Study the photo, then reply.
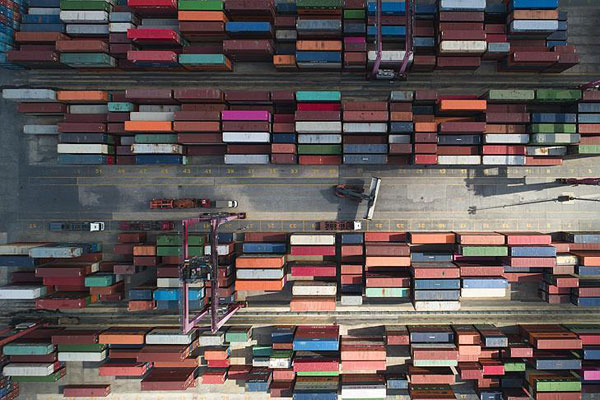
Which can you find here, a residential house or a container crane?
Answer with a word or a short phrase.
container crane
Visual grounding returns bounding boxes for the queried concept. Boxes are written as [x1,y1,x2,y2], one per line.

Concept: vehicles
[148,199,210,209]
[47,221,103,232]
[315,221,362,231]
[215,200,237,208]
[332,175,381,218]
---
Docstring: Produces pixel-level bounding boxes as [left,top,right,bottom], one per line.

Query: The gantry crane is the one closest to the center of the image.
[179,211,246,334]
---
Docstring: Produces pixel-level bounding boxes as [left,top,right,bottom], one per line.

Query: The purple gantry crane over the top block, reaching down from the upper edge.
[363,0,416,77]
